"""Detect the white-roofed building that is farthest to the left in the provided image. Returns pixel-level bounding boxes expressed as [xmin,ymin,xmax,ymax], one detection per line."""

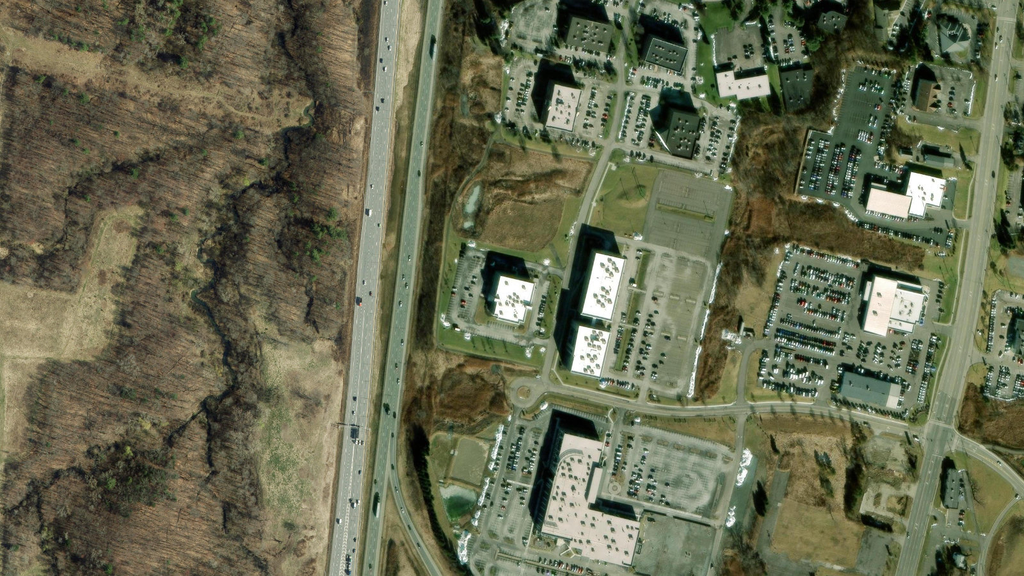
[489,272,535,324]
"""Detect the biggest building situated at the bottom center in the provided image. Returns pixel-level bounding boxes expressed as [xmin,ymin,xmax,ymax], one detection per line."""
[537,429,640,566]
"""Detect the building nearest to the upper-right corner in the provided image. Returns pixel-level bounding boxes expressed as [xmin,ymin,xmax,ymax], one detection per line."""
[940,14,970,52]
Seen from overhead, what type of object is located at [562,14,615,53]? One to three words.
building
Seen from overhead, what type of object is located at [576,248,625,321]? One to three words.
building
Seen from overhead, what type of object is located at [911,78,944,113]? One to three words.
house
